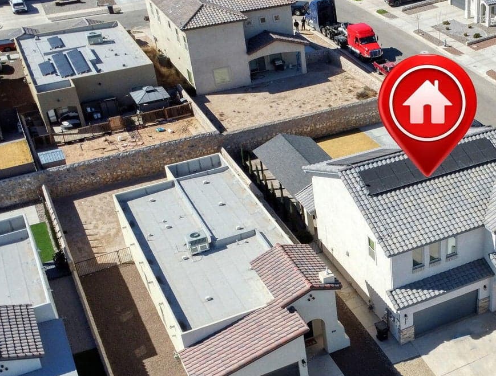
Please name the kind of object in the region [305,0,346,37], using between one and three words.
truck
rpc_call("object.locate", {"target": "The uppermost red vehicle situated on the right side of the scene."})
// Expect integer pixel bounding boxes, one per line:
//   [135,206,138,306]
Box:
[336,15,383,61]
